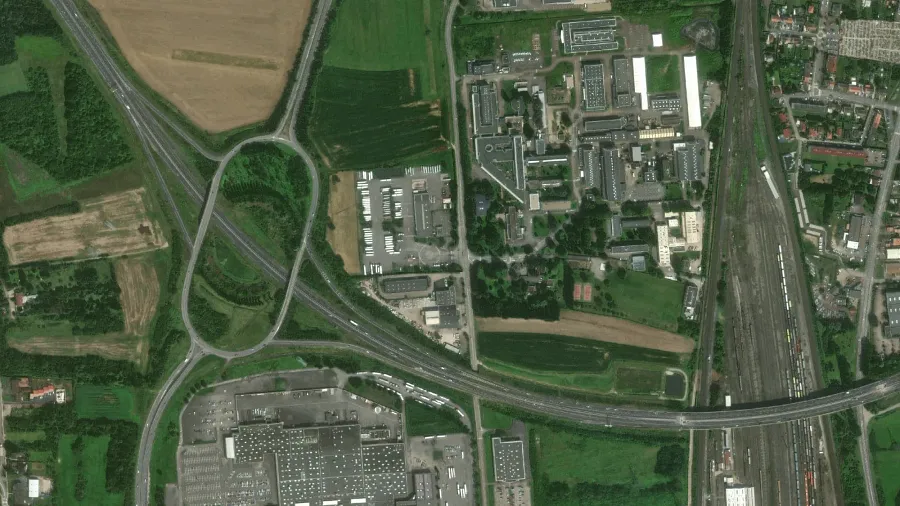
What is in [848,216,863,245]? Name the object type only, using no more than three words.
house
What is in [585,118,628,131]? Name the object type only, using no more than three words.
building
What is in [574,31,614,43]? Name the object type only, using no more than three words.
building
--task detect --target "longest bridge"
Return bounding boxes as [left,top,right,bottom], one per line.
[690,383,879,429]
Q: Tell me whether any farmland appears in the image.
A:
Yes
